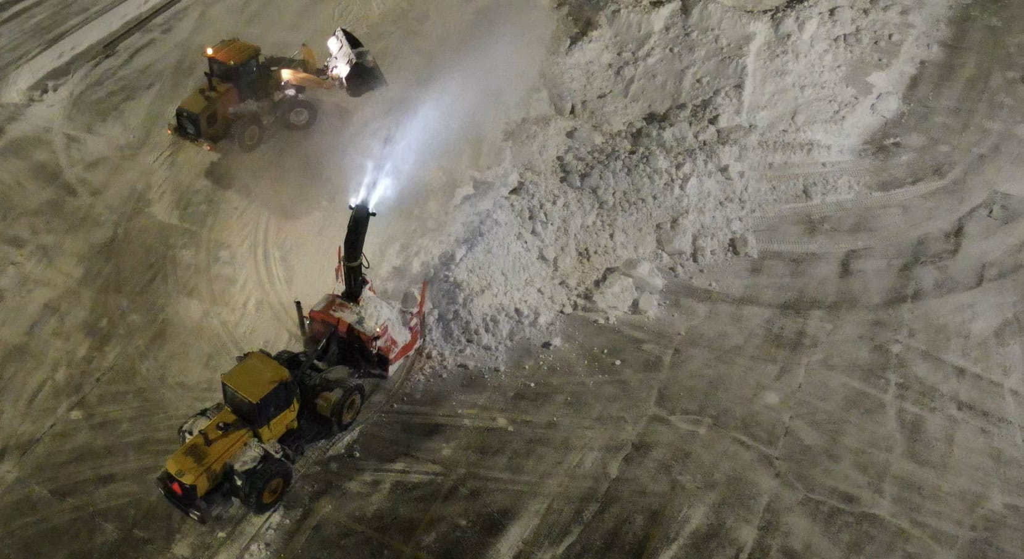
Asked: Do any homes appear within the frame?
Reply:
No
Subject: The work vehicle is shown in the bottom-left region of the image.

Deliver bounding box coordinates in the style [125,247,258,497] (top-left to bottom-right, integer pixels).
[152,329,362,529]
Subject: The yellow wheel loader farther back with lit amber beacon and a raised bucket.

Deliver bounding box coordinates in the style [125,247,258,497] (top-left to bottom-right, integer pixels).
[169,30,394,155]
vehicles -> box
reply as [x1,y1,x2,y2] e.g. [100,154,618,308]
[169,30,394,155]
[152,329,362,529]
